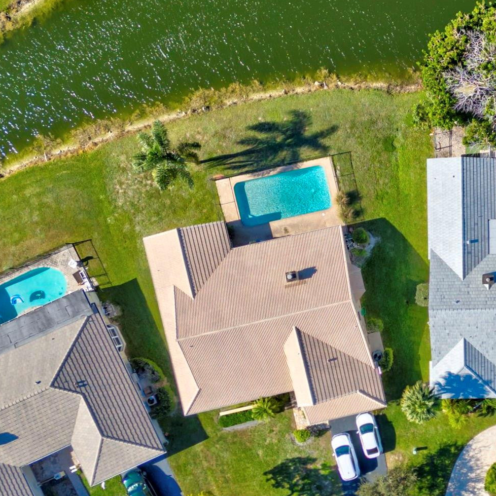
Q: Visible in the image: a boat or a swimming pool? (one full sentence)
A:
The one in the frame is a swimming pool.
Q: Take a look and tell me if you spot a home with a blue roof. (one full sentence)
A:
No, no home with a blue roof is visible in the view.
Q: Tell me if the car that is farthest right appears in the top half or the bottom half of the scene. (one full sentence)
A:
The car that is farthest right sits in the bottom half of the picture.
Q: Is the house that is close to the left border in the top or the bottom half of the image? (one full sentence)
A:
It is in the bottom half that the house that is close to the left border appears.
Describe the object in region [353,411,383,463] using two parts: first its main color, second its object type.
white car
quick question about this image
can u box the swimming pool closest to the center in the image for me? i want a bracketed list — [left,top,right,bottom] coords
[231,161,335,230]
